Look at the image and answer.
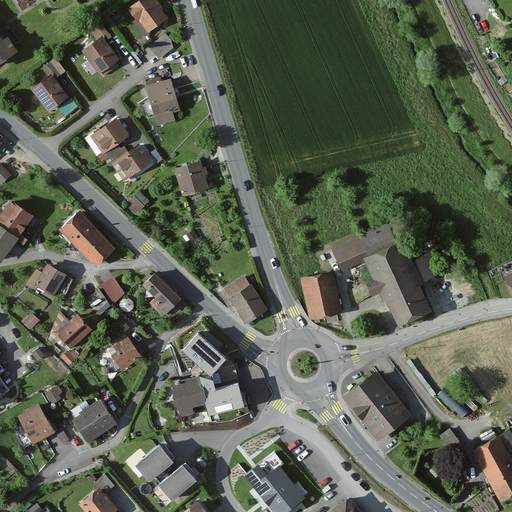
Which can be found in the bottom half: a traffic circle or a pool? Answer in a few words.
traffic circle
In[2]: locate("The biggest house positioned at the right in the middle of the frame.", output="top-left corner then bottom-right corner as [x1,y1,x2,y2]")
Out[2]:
[365,246,439,330]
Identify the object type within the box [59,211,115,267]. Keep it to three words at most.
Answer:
house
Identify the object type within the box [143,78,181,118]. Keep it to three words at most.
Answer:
house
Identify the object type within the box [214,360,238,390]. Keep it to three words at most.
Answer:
building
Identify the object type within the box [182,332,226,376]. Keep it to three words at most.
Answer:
building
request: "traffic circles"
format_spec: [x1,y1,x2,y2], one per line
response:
[266,326,342,402]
